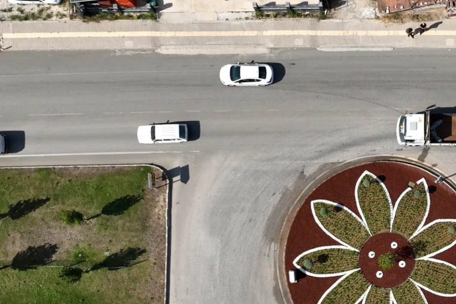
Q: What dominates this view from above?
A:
paved ground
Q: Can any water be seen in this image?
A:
No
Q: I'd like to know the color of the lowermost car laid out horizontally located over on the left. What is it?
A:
white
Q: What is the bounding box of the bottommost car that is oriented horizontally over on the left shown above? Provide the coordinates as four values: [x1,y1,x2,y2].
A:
[138,121,189,144]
